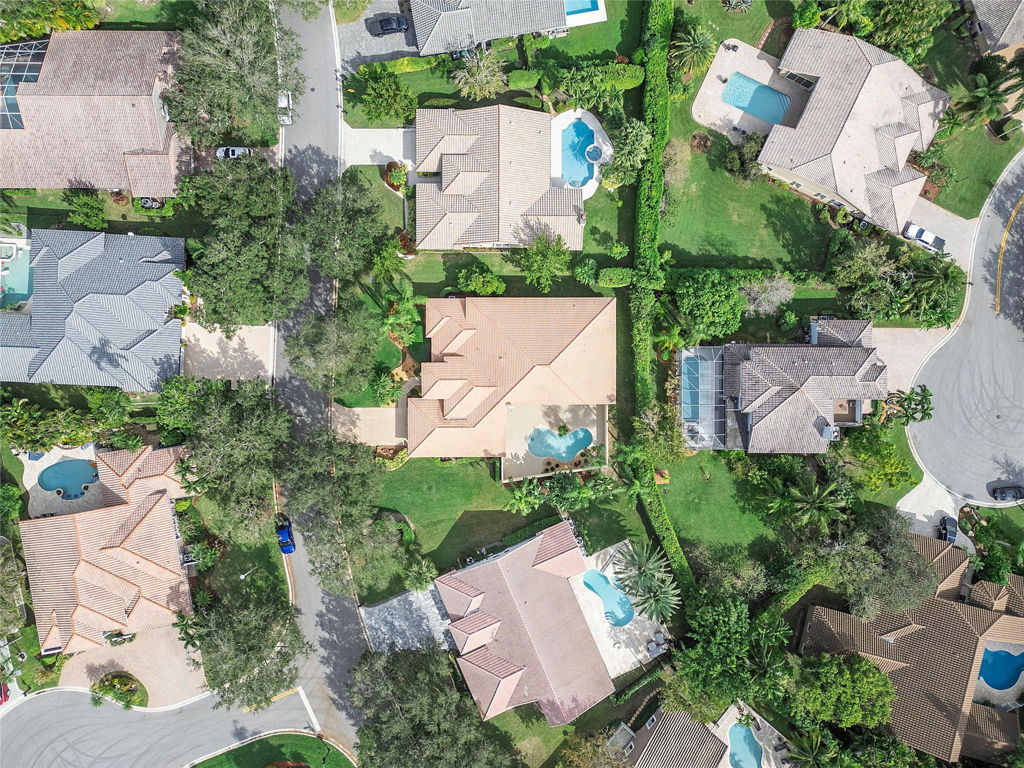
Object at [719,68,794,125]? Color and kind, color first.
blue swimming pool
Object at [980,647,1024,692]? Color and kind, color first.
blue swimming pool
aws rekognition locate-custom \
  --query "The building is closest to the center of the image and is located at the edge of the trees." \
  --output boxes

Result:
[407,297,617,458]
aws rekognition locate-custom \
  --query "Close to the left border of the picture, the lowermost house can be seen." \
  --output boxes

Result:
[19,445,200,655]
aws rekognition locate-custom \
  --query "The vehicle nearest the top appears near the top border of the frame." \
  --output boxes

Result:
[365,16,411,40]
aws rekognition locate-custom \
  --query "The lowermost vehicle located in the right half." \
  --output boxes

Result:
[935,511,959,546]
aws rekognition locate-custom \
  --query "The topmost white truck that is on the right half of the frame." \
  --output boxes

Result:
[901,223,948,256]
